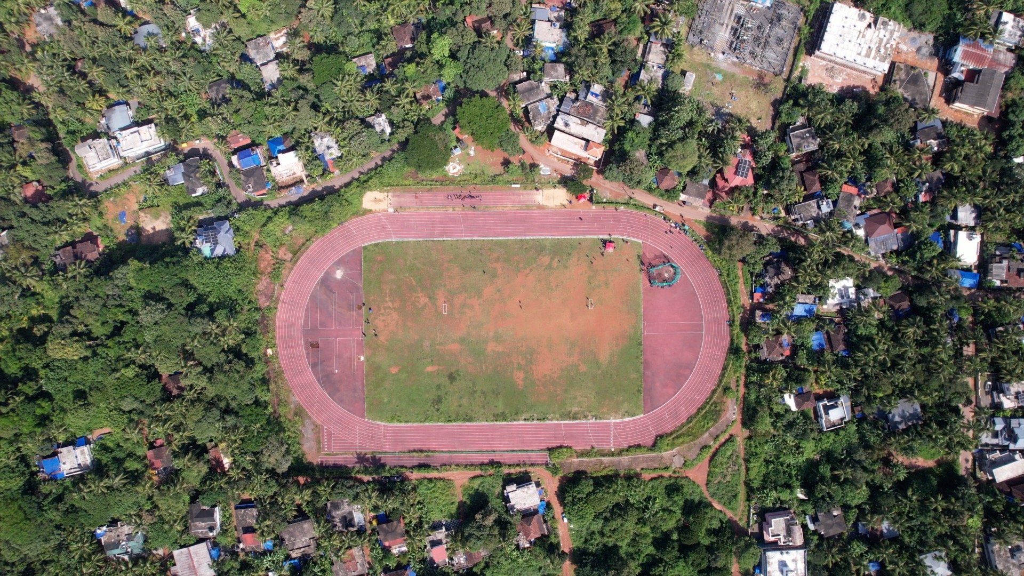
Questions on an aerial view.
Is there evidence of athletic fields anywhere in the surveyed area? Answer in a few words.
Yes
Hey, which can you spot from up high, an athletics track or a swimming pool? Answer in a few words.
athletics track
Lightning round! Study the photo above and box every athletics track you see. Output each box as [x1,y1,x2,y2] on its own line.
[276,209,730,451]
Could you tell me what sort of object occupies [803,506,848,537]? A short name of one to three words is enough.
house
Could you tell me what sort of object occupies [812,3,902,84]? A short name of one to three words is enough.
building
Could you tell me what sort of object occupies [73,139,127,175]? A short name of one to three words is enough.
house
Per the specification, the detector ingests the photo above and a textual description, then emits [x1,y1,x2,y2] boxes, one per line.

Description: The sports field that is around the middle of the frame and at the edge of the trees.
[363,237,643,423]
